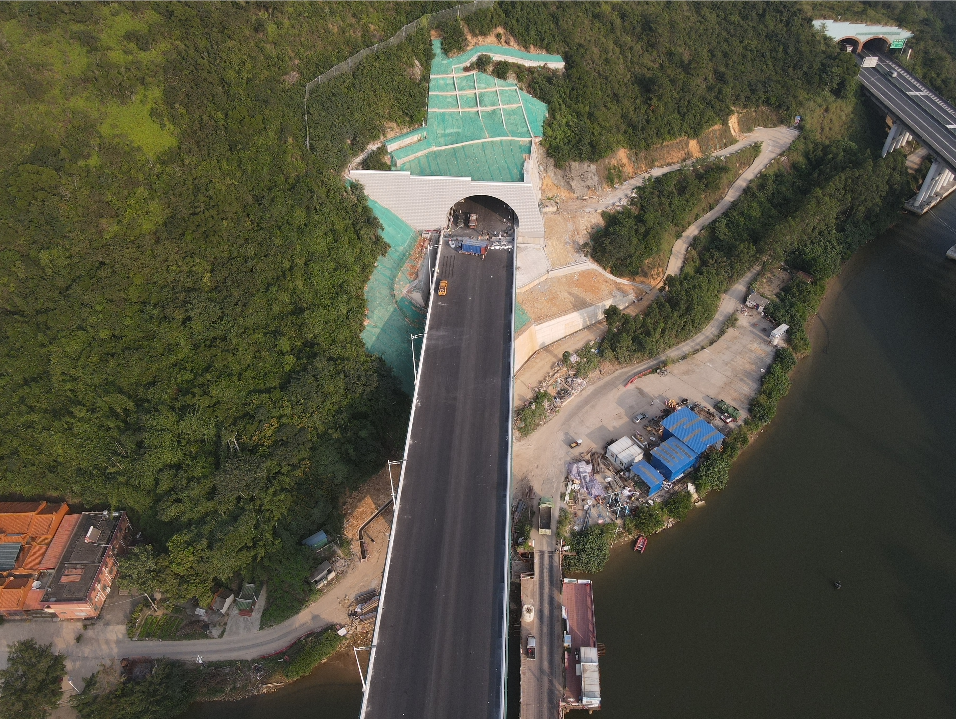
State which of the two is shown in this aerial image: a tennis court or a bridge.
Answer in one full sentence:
Visible in the photo is a bridge.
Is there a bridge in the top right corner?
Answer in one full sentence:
Yes, a bridge shows up in the top right corner.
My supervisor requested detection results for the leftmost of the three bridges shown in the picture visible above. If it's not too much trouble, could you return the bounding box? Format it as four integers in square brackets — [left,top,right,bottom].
[360,197,513,719]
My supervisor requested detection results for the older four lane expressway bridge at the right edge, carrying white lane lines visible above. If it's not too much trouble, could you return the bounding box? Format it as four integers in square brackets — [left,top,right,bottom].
[829,39,956,214]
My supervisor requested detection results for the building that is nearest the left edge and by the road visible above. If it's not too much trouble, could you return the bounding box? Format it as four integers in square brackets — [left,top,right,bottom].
[0,501,80,619]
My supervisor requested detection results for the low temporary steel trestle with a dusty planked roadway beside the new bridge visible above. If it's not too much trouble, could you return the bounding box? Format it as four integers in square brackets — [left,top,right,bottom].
[518,544,563,719]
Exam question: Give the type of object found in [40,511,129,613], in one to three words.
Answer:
building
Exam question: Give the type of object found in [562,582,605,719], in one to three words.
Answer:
ship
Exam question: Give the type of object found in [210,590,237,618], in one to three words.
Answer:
shed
